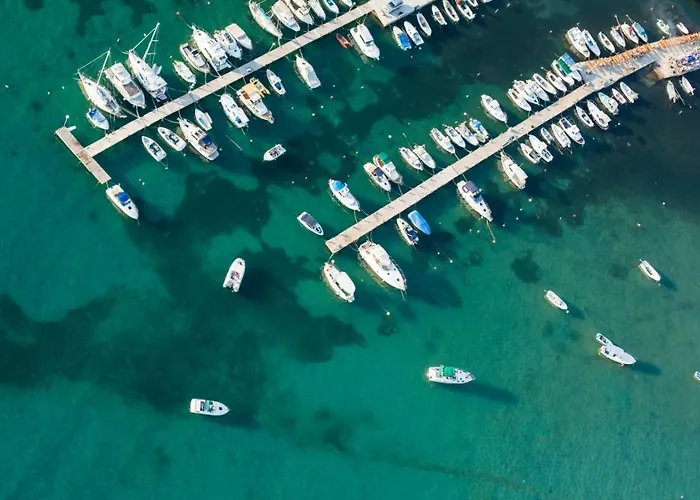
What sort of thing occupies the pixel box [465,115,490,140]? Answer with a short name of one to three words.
boat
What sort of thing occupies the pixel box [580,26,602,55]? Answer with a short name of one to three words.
boat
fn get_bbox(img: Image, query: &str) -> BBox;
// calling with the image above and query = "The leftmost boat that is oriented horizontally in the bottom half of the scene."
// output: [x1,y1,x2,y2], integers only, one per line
[187,399,230,416]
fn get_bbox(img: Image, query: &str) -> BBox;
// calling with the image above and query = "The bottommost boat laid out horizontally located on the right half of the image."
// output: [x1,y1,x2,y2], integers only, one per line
[421,366,479,385]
